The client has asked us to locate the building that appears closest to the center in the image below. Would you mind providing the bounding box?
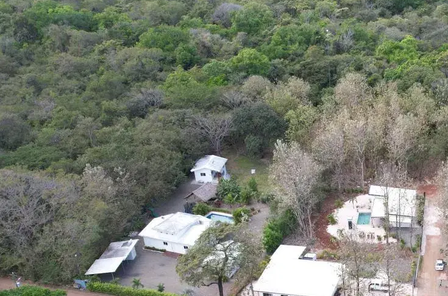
[191,153,228,184]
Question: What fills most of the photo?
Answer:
trees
